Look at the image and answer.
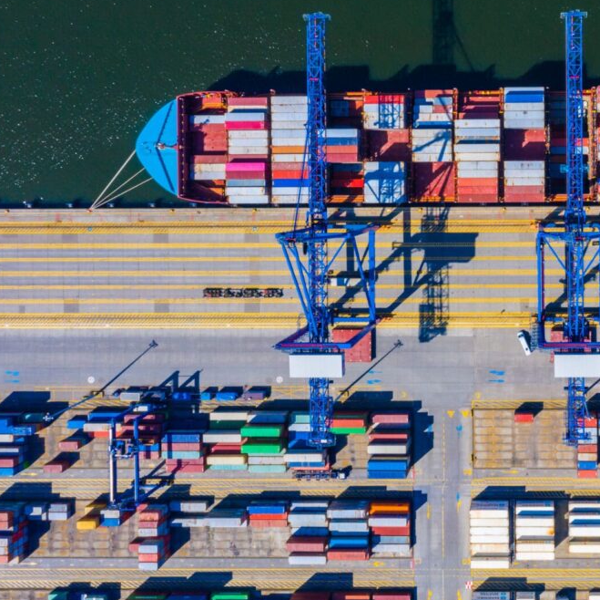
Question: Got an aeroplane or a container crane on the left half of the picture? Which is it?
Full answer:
The feature located on the left half of the picture is a container crane.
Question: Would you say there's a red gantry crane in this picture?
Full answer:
No, no red gantry crane can be seen from above.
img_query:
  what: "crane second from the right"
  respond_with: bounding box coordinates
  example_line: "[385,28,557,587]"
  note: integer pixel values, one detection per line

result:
[269,6,395,446]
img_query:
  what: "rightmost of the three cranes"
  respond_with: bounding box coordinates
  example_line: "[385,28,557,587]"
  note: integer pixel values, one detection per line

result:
[526,6,600,446]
